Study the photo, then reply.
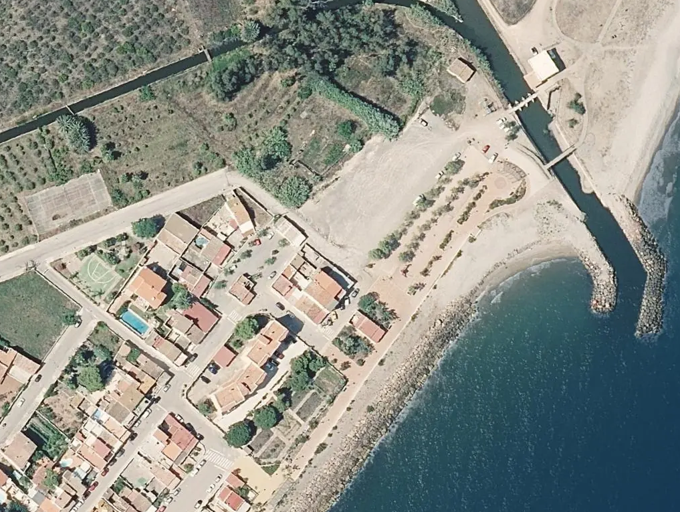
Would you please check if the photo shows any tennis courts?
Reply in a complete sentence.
Yes, looking at the shot, I can spot a tennis court.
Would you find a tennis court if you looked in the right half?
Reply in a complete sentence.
No, there's no tennis court to be seen in the right half.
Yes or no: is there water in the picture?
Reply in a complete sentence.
Yes, water can be seen from above here.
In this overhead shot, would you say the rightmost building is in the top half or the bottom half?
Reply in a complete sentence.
Seen from above, the rightmost building lies in the top half of the view.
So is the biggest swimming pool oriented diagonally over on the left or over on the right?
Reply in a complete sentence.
The biggest swimming pool oriented diagonally sits on the left side.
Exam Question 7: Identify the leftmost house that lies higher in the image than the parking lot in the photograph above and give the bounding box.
[447,59,474,83]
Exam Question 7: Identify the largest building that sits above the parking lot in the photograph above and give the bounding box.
[523,50,559,89]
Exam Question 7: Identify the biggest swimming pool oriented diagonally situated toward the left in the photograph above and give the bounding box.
[120,309,151,335]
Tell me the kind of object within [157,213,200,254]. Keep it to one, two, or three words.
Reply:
building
